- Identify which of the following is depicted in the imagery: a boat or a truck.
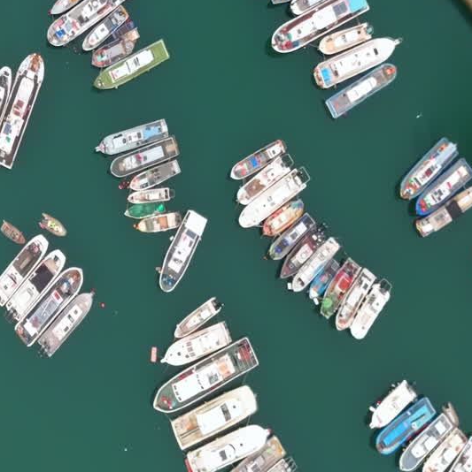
boat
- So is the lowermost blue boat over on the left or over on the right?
right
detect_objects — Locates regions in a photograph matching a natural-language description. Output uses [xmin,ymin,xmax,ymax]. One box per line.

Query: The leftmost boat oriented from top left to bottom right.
[1,221,25,243]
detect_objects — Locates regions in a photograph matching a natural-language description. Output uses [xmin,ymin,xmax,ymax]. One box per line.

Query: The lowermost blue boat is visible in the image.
[376,398,438,455]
